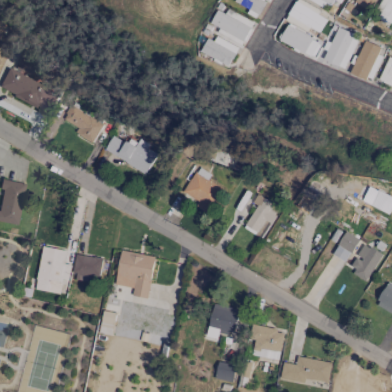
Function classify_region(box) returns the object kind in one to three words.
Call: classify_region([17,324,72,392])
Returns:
tennis court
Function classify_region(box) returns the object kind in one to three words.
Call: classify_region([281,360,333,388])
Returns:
house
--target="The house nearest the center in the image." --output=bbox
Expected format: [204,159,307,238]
[186,168,215,202]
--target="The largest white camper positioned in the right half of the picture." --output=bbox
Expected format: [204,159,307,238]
[237,192,253,212]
